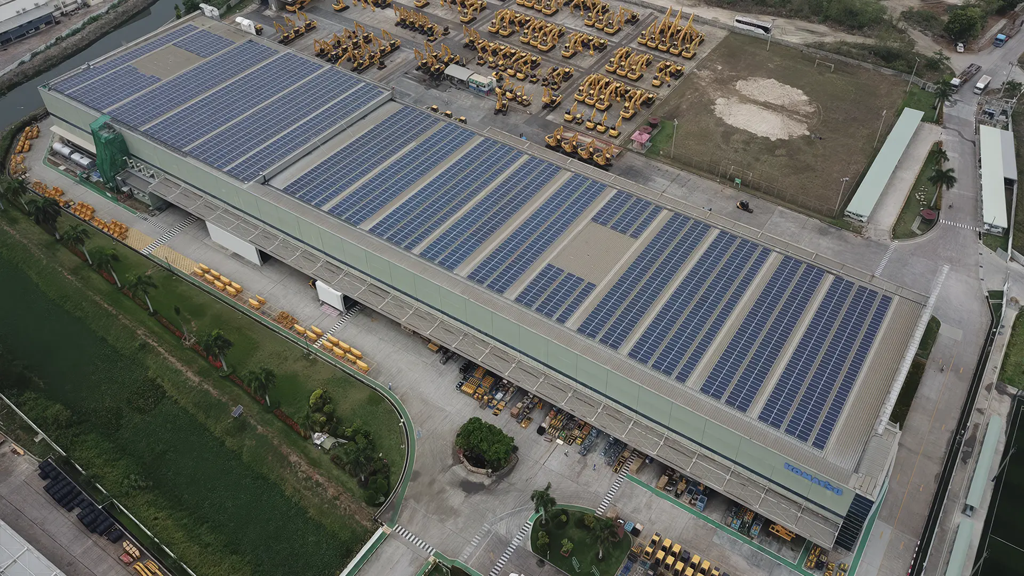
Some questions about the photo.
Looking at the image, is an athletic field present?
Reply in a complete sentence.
Yes, there is an athletic field in the image.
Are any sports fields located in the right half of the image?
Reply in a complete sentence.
Yes, you'll find a sports field in the right half of the image.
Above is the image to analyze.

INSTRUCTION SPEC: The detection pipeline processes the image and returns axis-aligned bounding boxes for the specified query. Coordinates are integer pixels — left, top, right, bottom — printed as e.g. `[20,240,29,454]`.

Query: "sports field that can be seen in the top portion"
[619,36,911,228]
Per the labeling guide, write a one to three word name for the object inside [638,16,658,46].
work vehicle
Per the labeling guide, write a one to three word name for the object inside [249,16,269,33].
vehicle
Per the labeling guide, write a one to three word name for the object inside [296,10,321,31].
work vehicle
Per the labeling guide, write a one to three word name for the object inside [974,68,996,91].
truck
